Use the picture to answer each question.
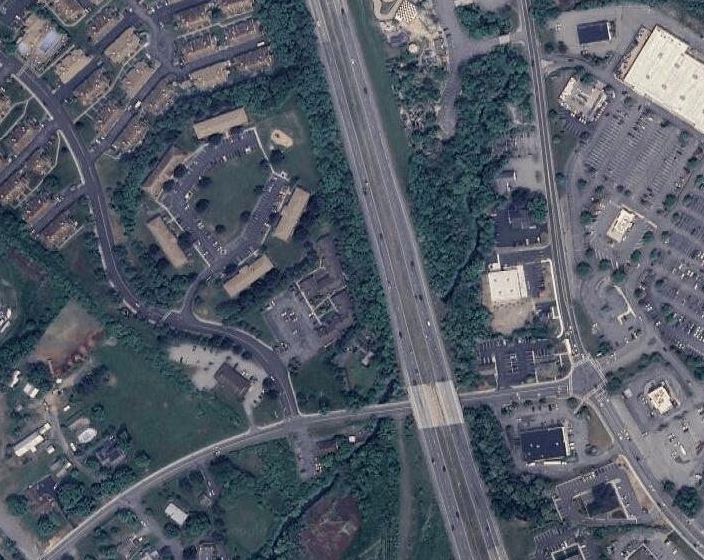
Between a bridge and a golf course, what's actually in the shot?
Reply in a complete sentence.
Of the two, only a bridge appears.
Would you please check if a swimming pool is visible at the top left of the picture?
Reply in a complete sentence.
Yes, a swimming pool can be seen at the top left of the picture.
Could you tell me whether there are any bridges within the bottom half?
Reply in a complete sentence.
Yes, a bridge can be seen within the bottom half.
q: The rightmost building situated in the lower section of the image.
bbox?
[647,383,677,413]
